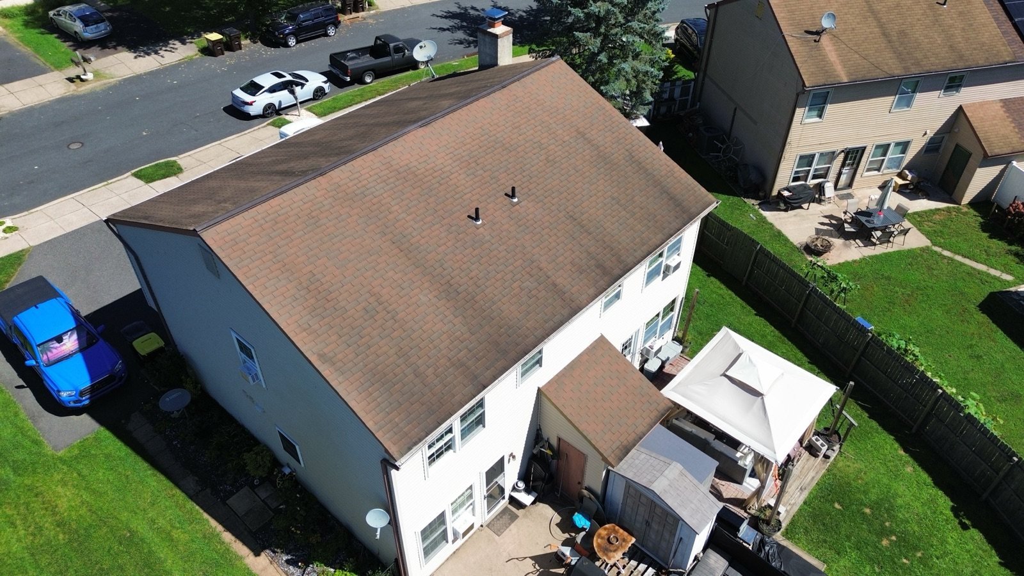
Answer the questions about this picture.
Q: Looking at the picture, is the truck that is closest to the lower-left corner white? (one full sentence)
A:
No, from above the truck that is closest to the lower-left corner looks blue.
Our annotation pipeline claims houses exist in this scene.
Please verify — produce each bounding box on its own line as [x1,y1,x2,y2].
[694,0,1024,203]
[104,12,721,576]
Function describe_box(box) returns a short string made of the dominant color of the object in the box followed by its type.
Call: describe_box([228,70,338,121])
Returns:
white car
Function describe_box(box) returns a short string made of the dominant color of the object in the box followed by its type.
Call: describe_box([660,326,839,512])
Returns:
white gazebo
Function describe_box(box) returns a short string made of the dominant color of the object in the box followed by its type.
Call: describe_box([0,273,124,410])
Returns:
blue truck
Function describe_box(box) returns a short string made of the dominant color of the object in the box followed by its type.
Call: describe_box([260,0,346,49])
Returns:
black car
